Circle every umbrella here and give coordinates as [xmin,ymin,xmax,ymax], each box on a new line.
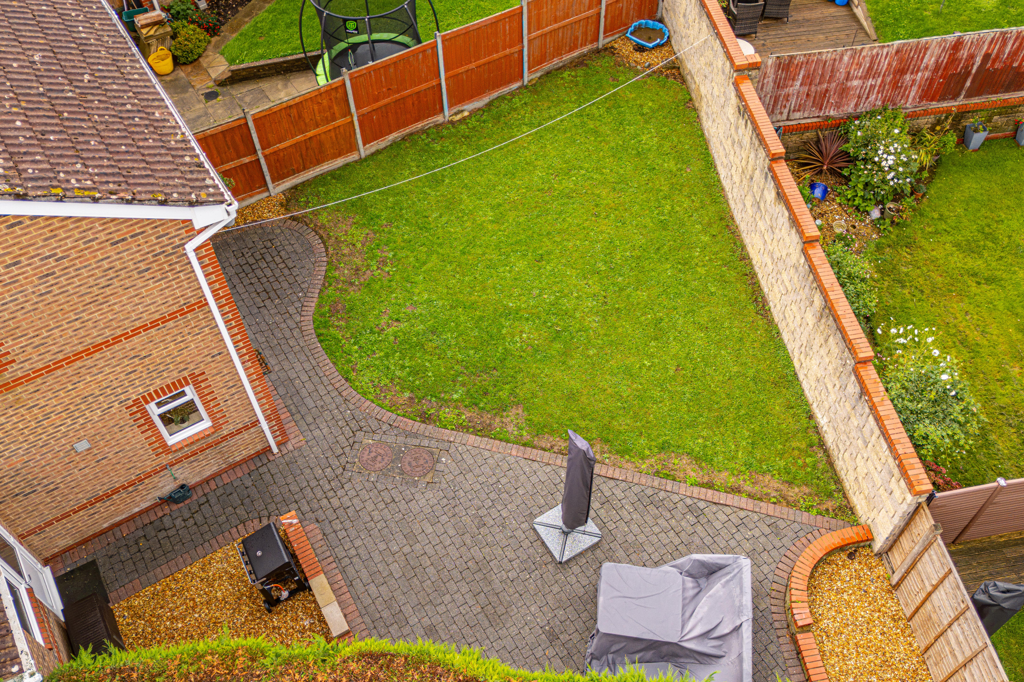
[532,432,602,566]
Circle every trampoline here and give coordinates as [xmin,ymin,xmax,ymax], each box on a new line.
[307,0,430,87]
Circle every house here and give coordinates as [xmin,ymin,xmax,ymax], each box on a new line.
[0,0,290,682]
